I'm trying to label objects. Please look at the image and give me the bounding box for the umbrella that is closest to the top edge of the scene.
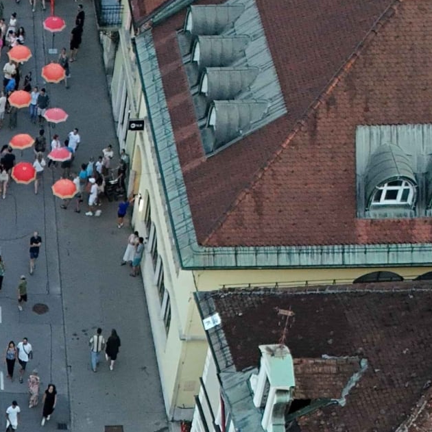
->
[43,16,65,36]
